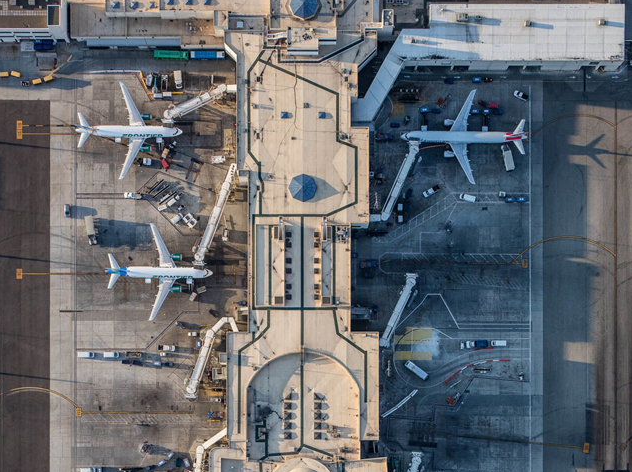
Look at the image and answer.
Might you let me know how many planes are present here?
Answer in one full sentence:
In total, there are 3 planes in the scene.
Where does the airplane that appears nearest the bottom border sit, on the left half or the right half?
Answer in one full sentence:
The airplane that appears nearest the bottom border is on the left side of the image.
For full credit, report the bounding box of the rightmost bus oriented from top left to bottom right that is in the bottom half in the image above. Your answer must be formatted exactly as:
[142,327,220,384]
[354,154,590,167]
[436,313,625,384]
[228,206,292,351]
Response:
[403,358,429,379]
